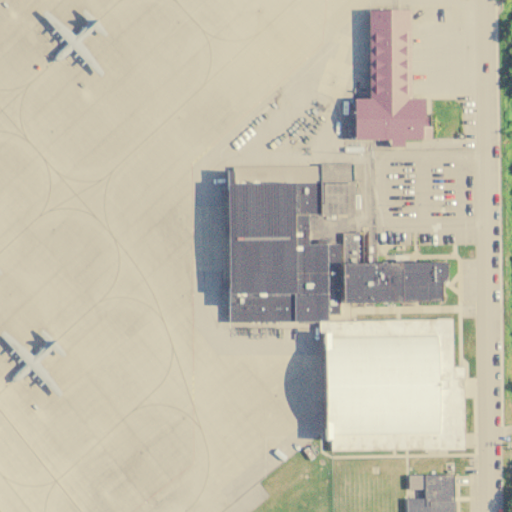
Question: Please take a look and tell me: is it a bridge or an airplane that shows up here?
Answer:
airplane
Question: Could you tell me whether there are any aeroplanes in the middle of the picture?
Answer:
No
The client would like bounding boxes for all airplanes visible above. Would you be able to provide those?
[2,330,66,396]
[44,9,109,74]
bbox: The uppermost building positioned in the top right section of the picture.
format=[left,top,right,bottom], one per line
[355,8,434,146]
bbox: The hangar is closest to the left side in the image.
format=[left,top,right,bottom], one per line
[228,166,320,320]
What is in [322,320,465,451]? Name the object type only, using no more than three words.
hangar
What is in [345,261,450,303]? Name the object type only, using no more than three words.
building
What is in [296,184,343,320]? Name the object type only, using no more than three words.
building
